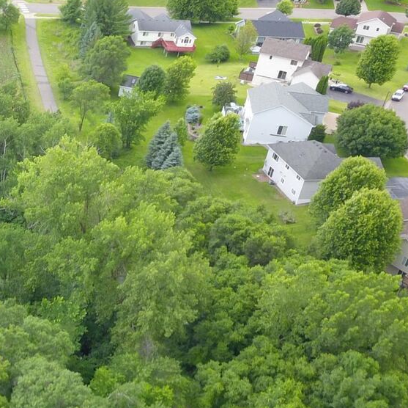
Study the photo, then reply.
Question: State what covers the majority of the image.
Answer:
trees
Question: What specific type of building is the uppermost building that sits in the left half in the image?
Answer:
residential house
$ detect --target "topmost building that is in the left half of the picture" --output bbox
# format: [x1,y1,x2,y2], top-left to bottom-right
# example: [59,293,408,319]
[115,5,204,56]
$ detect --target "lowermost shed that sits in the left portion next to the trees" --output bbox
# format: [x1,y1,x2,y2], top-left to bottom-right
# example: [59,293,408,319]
[118,78,140,97]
